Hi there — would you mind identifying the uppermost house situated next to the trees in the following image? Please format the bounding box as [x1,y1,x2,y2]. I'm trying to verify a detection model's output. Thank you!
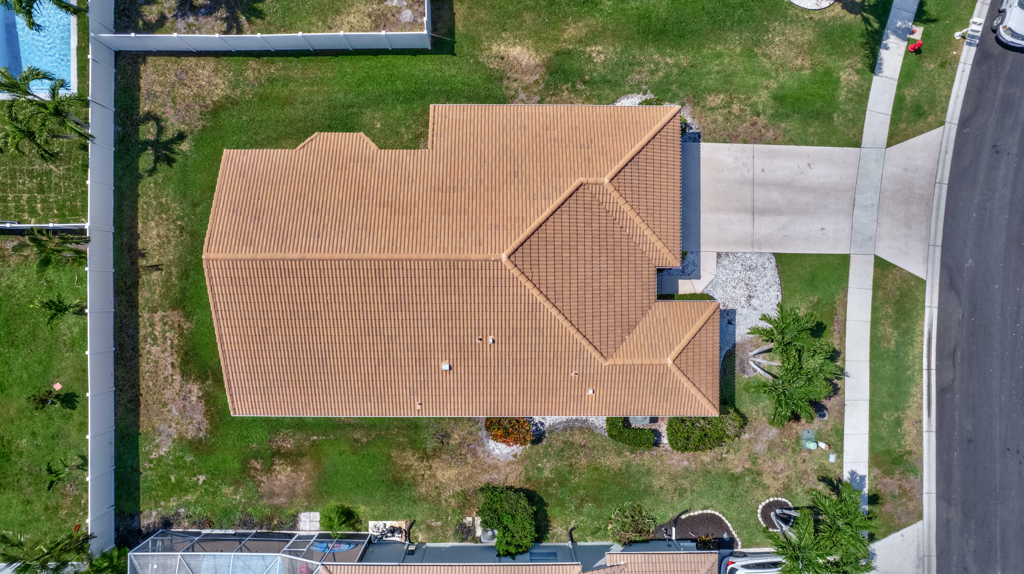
[199,102,721,417]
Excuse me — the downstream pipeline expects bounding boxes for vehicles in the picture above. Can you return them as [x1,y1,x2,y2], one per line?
[720,550,810,574]
[990,0,1024,56]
